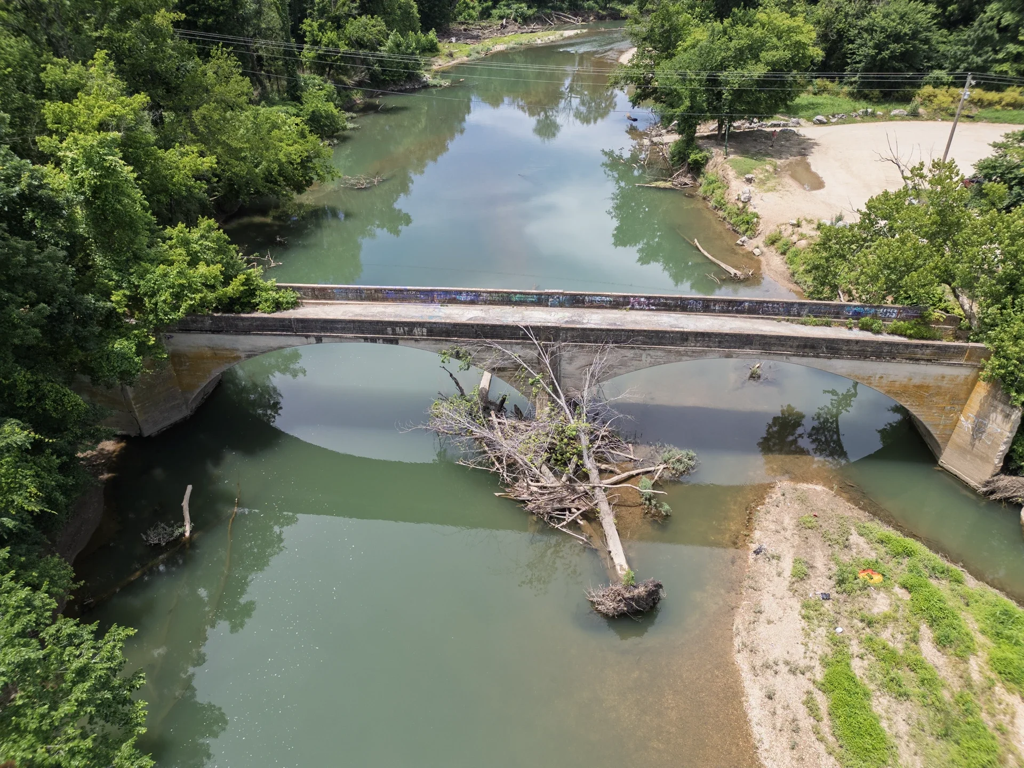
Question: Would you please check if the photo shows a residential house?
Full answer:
No, the frame has no residential house in it.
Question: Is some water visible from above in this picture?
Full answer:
Yes, there's water in this view.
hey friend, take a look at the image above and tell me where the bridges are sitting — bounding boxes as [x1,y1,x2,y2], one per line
[125,281,1024,485]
